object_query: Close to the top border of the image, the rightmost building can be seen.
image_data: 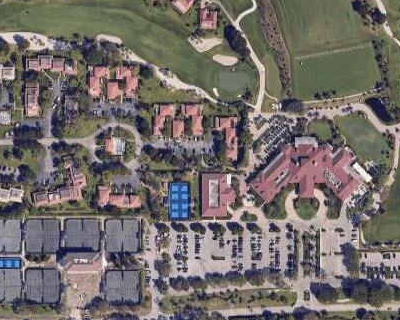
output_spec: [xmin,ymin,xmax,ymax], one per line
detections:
[199,8,218,27]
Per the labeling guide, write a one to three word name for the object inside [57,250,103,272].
building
